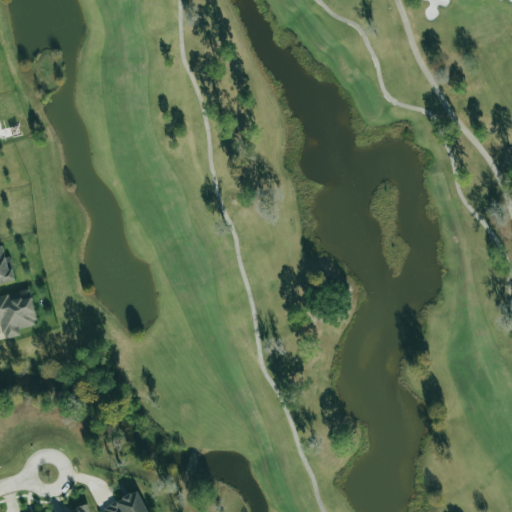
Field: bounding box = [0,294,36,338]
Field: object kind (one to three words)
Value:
house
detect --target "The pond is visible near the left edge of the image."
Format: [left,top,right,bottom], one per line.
[10,0,158,334]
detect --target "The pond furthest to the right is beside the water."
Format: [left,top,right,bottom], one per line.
[178,448,268,512]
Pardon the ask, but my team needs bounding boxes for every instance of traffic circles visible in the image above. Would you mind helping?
[12,448,74,498]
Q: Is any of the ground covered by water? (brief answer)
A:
Yes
